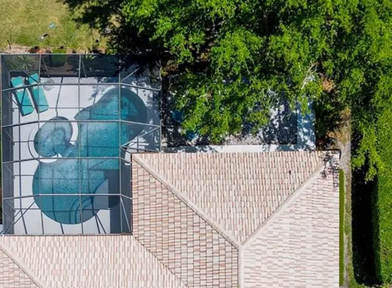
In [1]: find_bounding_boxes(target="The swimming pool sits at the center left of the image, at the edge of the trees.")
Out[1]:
[27,84,152,228]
